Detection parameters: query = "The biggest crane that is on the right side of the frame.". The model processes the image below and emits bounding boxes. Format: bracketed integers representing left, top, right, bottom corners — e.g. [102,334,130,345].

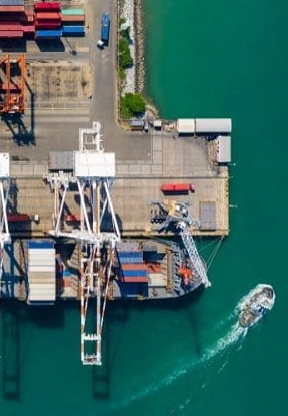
[151,202,209,288]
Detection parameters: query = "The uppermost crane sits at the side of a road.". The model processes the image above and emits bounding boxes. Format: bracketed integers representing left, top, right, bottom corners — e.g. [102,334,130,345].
[0,56,26,117]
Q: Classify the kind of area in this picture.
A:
port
